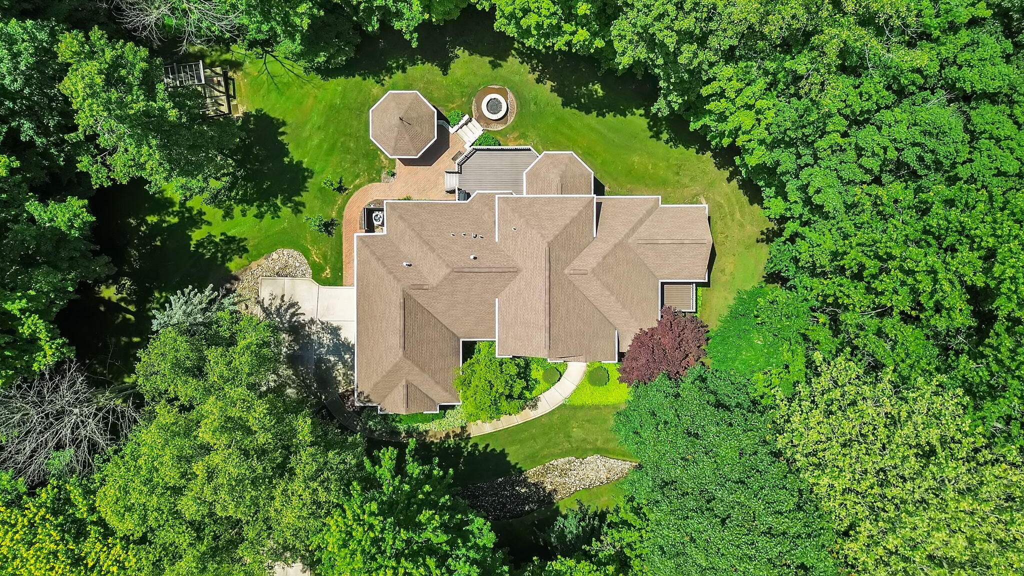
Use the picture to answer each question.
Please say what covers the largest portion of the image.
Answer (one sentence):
The scene is dominated by trees.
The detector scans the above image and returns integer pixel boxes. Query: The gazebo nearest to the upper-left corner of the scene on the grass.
[369,90,438,160]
